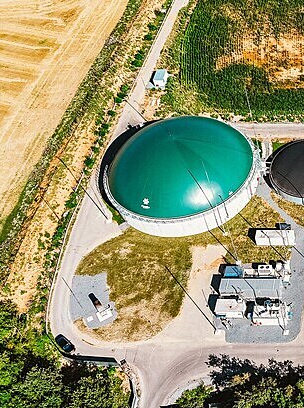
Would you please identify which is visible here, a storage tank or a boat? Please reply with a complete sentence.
Looking from above, you can make out a storage tank.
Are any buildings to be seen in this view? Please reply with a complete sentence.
Yes, I can see a building in this picture.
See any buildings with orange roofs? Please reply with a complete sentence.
No, the scene contains no building with an orange roof.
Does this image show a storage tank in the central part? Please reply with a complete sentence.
Yes, a storage tank is visible in the central part.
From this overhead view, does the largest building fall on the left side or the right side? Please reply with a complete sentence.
The largest building appears in the right half of the scene.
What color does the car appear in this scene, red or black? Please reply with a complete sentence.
The color of the car is black.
